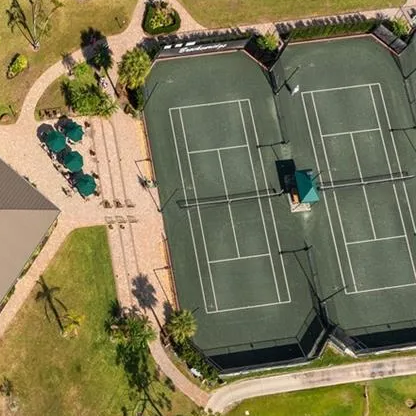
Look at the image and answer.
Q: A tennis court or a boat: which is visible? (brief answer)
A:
tennis court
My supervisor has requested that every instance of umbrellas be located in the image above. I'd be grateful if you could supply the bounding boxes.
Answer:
[65,121,85,144]
[64,150,84,172]
[46,130,66,153]
[76,173,96,196]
